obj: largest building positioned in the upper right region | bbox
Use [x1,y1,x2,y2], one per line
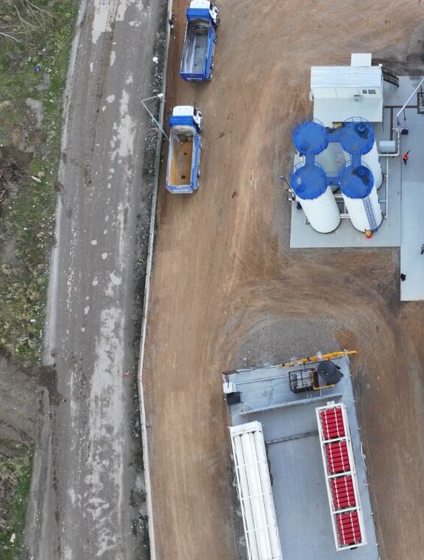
[311,53,386,132]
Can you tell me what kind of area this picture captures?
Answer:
industrial area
